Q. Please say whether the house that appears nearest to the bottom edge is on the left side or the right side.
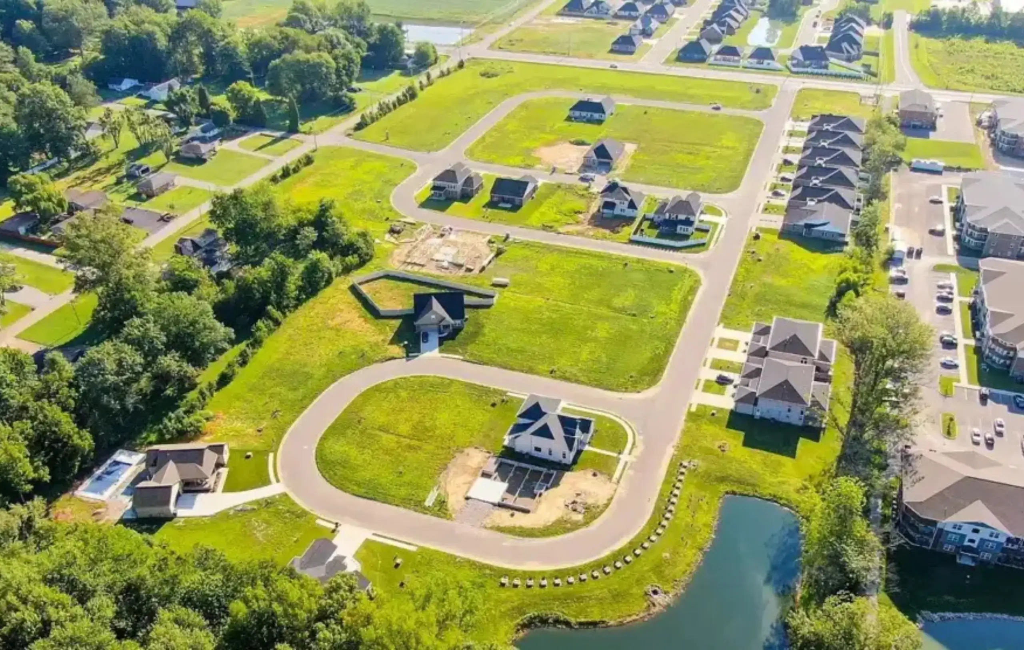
left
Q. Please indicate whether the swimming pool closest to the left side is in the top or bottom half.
bottom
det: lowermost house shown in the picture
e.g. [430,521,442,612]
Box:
[282,543,374,597]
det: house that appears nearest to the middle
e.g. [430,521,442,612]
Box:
[413,292,464,330]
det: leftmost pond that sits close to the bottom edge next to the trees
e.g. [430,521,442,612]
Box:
[517,493,802,650]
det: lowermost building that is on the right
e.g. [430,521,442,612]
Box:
[890,443,1024,573]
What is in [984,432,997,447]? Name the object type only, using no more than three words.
vehicle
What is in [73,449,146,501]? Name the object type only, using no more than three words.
swimming pool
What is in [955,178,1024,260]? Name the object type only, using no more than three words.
building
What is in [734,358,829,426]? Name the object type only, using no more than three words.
house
